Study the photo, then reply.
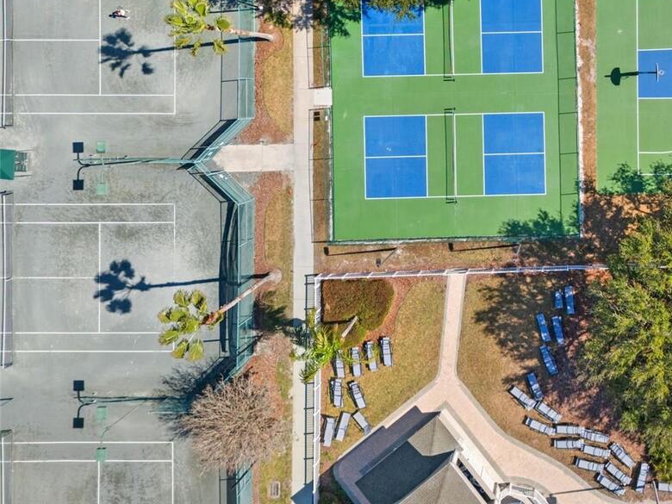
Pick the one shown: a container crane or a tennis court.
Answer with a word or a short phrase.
tennis court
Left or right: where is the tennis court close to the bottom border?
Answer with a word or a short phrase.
left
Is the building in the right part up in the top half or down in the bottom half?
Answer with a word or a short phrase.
bottom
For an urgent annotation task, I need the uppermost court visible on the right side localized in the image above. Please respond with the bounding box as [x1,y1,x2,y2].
[331,0,577,97]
